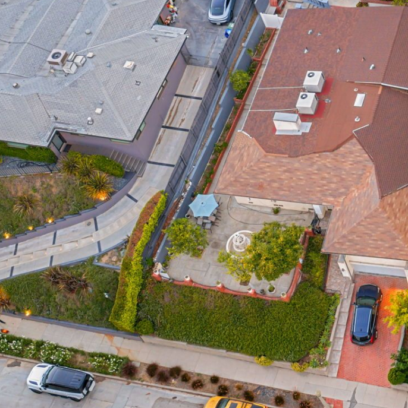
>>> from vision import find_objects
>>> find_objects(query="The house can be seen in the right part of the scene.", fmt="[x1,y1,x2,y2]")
[214,6,408,275]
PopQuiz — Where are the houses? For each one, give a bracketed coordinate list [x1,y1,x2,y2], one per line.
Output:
[214,6,408,275]
[0,0,191,164]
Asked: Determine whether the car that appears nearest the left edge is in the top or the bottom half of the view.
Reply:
bottom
